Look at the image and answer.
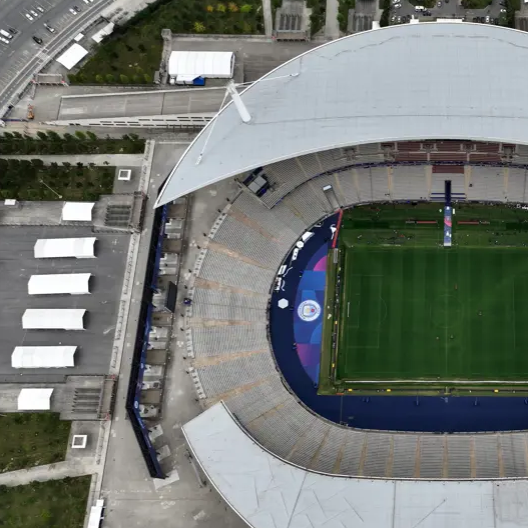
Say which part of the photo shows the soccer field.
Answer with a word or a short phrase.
right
